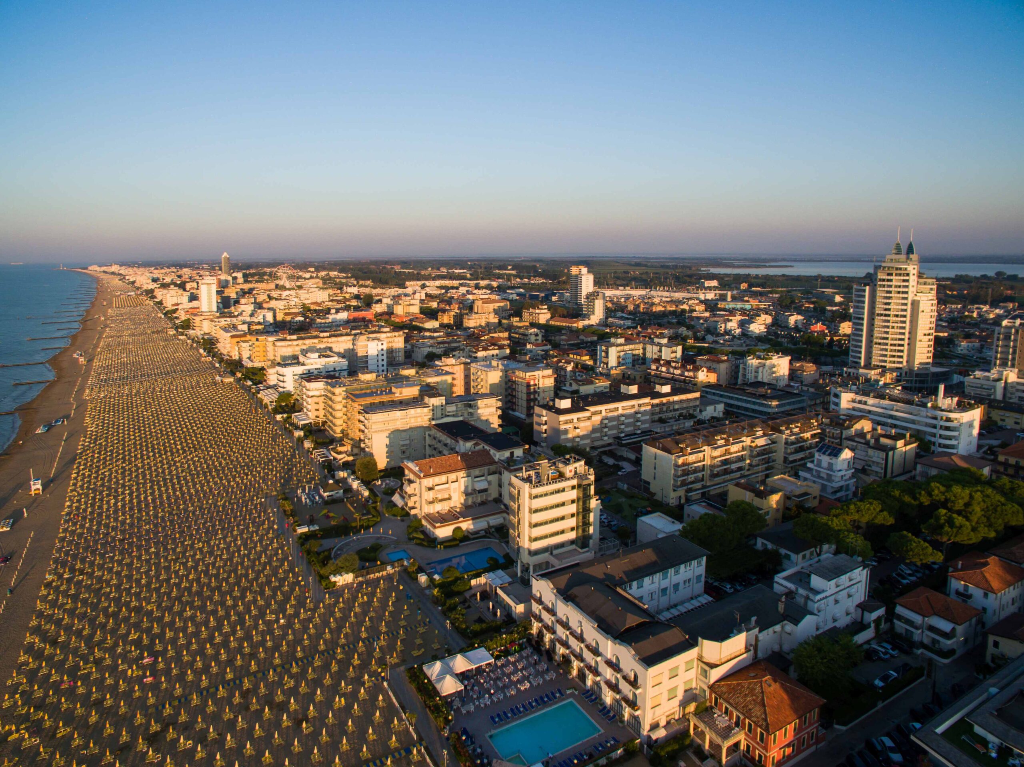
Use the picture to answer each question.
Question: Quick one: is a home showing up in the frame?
Yes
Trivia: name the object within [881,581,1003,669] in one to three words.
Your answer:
house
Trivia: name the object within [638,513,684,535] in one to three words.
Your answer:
building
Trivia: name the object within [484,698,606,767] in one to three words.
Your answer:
swimming pool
